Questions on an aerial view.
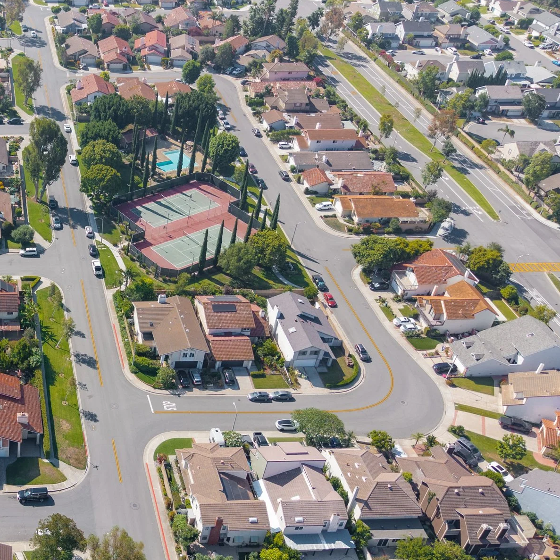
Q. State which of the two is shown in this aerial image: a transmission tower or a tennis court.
tennis court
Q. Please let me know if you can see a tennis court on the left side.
Yes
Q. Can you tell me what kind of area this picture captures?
residential area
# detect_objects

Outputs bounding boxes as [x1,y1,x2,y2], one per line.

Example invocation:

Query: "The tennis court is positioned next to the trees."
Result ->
[124,180,257,266]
